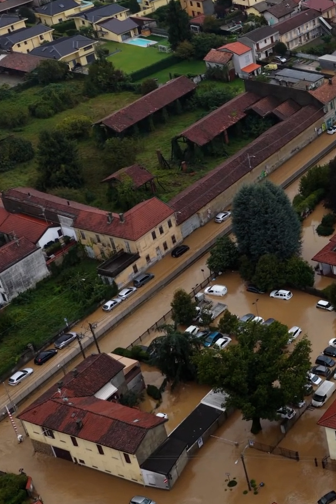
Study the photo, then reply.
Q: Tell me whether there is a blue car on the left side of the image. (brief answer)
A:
No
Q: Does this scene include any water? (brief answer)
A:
Yes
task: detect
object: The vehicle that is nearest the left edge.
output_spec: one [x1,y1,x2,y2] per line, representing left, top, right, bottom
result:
[4,368,36,386]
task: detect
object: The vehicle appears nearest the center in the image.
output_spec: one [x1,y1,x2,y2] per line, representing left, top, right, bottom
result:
[169,244,191,258]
